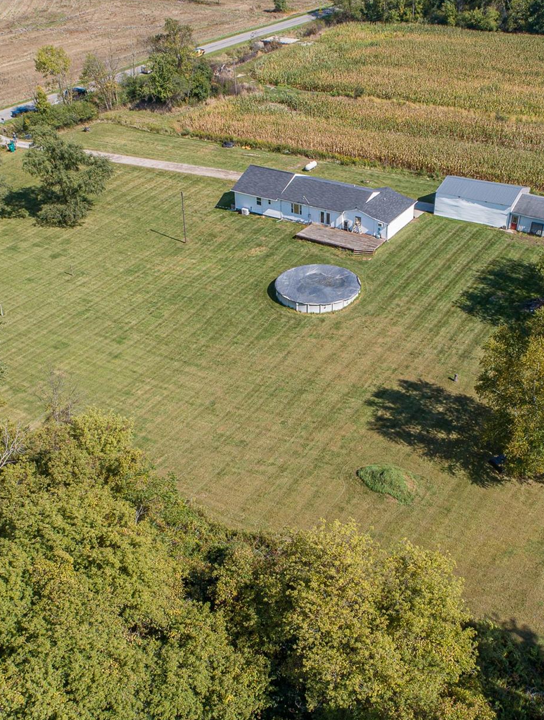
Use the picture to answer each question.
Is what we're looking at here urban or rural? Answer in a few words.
rural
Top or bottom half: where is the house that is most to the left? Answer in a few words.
top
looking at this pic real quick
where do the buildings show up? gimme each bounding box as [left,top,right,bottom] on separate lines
[229,165,419,244]
[433,172,532,229]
